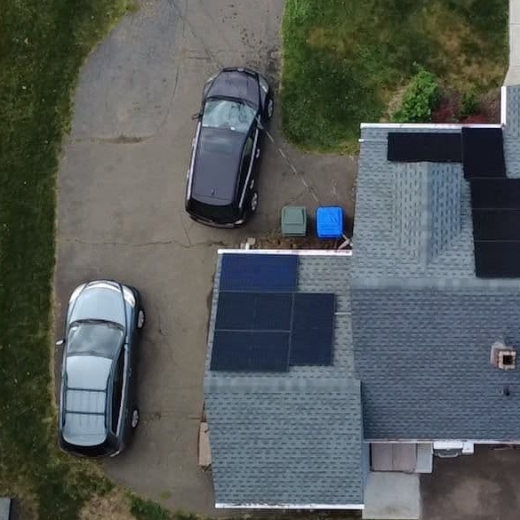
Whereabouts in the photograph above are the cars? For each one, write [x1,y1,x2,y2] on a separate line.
[181,64,272,230]
[53,280,146,461]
